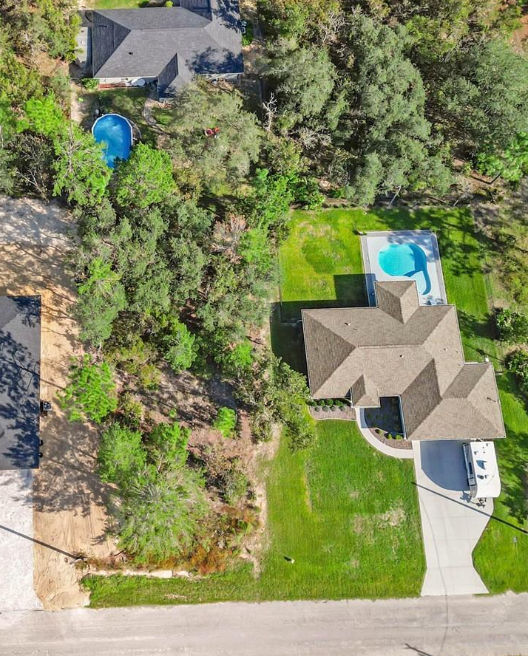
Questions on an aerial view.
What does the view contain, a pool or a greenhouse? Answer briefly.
pool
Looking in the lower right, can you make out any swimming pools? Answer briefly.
No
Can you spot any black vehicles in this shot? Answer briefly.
No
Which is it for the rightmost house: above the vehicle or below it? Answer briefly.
above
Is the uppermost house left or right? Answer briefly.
left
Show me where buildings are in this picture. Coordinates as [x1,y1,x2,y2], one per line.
[0,296,40,469]
[91,0,244,104]
[302,281,501,440]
